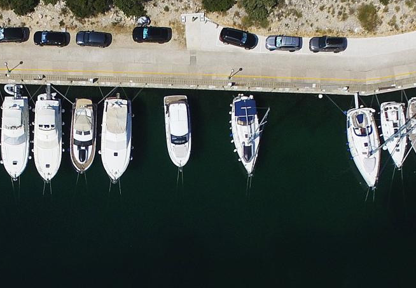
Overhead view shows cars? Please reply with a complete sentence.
Yes, you can see a car in this photo.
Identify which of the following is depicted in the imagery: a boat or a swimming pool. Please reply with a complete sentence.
There is a boat in the scene.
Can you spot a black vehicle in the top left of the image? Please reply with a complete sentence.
Yes, a black vehicle can be seen in the top left of the image.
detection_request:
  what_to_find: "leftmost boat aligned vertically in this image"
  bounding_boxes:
[0,81,33,189]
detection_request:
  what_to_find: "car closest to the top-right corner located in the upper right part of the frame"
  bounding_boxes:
[309,35,347,55]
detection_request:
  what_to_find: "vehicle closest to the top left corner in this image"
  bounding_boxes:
[0,24,26,45]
